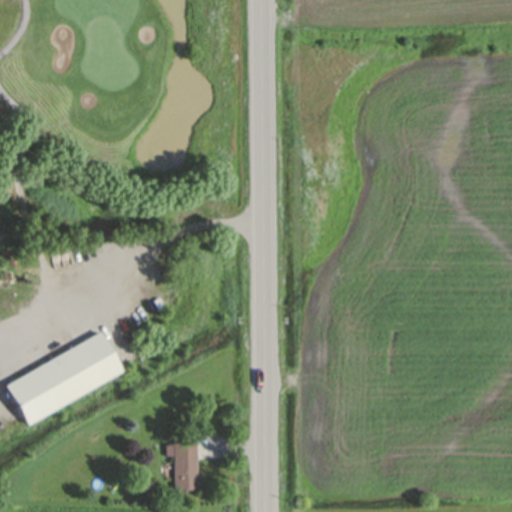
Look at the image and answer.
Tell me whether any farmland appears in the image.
Yes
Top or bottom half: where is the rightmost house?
bottom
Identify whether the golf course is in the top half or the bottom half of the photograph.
top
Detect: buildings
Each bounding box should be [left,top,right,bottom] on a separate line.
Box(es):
[7,332,123,426]
[166,444,198,490]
